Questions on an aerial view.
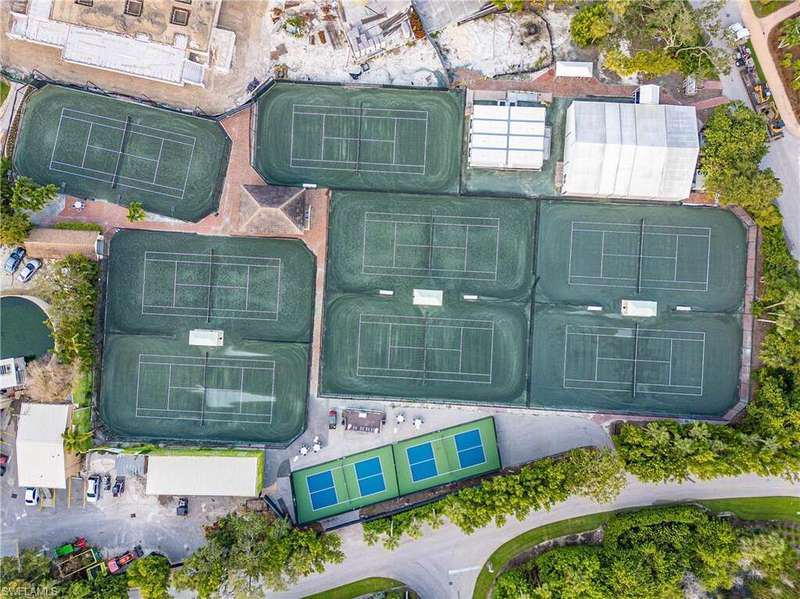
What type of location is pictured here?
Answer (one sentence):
What you see here is a sports ground.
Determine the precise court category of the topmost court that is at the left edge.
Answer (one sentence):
Looking closely, the topmost court that is at the left edge is a tennis court.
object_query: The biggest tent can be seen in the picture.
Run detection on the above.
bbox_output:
[559,102,700,205]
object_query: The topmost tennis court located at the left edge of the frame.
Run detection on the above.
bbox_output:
[14,84,231,222]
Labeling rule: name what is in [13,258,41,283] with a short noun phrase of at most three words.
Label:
car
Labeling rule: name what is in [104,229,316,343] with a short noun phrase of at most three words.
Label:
tennis court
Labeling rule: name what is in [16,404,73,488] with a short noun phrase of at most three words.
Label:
building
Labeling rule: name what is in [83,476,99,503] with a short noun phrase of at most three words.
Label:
vehicle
